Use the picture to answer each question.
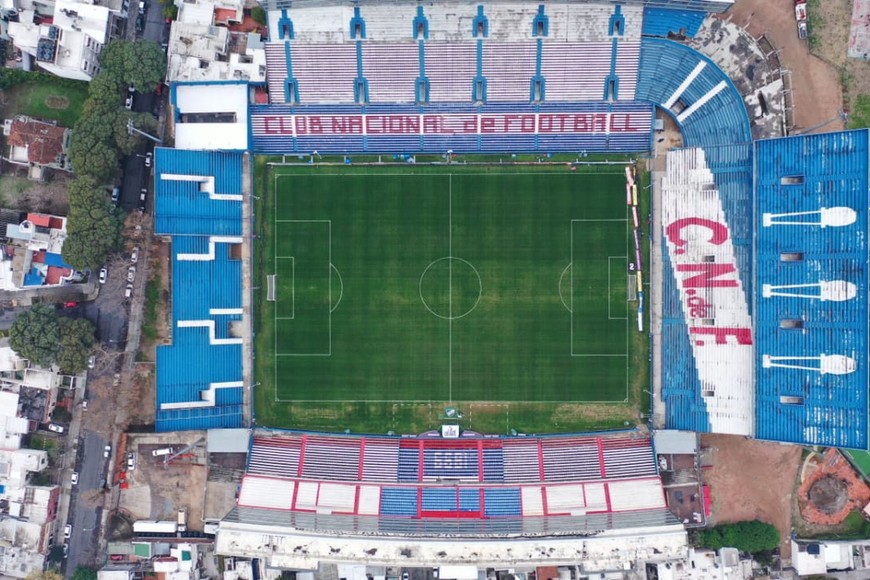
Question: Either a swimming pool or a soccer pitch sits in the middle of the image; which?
soccer pitch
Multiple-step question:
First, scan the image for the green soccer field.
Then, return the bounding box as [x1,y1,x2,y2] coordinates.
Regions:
[250,156,656,440]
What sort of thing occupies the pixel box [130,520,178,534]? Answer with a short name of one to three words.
trailer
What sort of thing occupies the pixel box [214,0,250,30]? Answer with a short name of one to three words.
house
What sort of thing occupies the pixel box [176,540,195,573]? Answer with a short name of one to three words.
house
